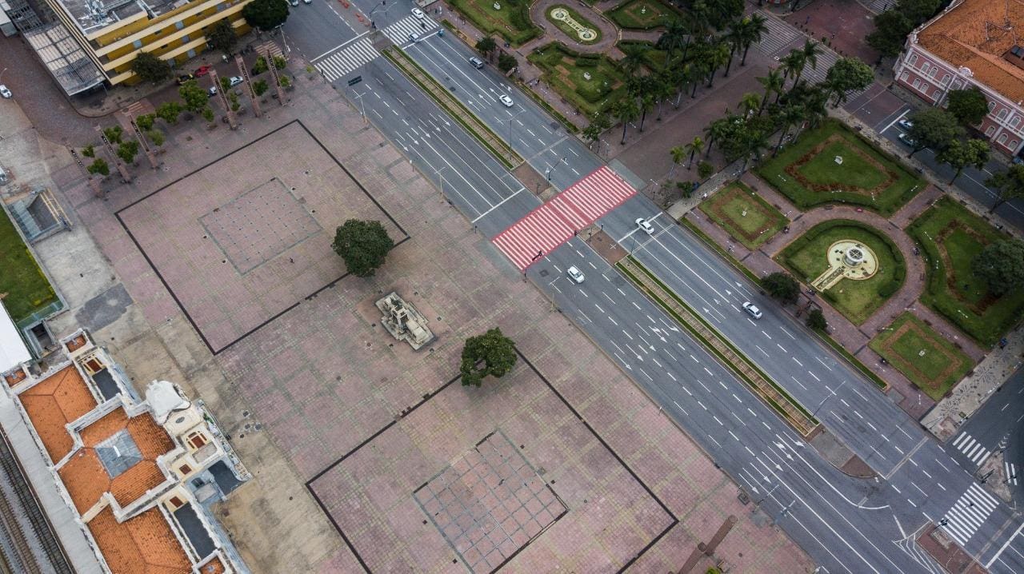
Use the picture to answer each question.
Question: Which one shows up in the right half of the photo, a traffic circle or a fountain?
fountain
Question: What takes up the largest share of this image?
paved ground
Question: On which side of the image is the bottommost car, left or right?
right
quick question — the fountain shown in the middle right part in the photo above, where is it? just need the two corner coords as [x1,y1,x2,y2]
[811,238,881,296]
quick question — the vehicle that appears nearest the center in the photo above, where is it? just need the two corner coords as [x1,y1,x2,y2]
[565,264,586,284]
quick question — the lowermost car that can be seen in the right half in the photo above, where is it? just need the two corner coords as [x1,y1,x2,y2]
[739,298,765,321]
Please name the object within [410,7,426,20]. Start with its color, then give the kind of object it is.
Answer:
white vehicle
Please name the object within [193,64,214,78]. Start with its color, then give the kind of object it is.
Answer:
red car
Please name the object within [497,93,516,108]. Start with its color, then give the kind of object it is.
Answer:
white car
